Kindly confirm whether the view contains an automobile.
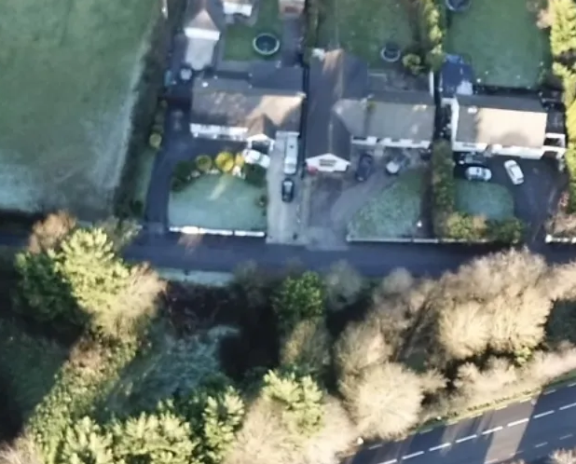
Yes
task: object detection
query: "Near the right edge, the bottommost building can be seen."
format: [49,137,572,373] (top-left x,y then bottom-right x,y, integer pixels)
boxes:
[449,92,566,159]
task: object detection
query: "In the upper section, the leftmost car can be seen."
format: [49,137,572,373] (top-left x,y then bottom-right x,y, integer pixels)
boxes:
[243,149,269,167]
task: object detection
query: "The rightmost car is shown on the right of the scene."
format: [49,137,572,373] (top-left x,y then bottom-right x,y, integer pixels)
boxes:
[506,160,524,183]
